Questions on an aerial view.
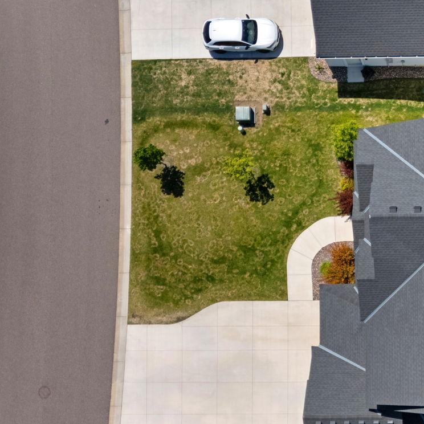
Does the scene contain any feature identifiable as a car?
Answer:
Yes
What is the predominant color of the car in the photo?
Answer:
white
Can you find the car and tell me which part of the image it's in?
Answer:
top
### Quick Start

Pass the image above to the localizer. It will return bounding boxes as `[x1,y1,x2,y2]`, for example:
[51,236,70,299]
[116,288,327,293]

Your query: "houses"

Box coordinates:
[310,0,424,82]
[303,116,424,424]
